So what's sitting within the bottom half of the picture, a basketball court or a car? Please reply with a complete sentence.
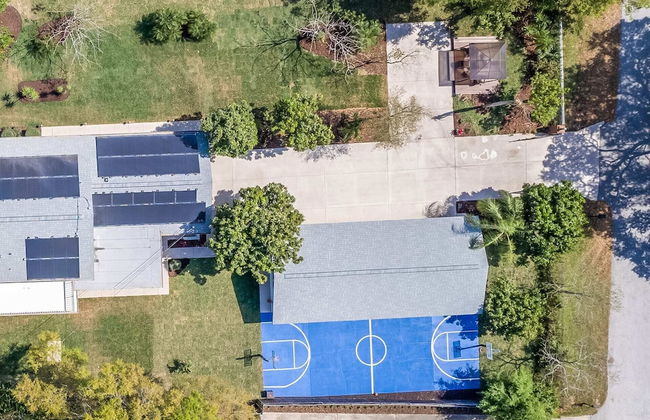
The one visible within the bottom half of the picture is a basketball court.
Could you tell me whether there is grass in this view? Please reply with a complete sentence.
Yes, grass can be seen from above here.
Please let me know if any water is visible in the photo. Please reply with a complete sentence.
No, the scene doesn't show any water.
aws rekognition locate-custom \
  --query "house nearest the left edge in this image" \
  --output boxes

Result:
[0,132,214,317]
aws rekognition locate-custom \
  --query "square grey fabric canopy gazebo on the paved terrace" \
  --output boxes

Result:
[463,43,508,86]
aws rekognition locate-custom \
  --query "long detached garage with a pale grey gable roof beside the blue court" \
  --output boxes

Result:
[273,215,489,324]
